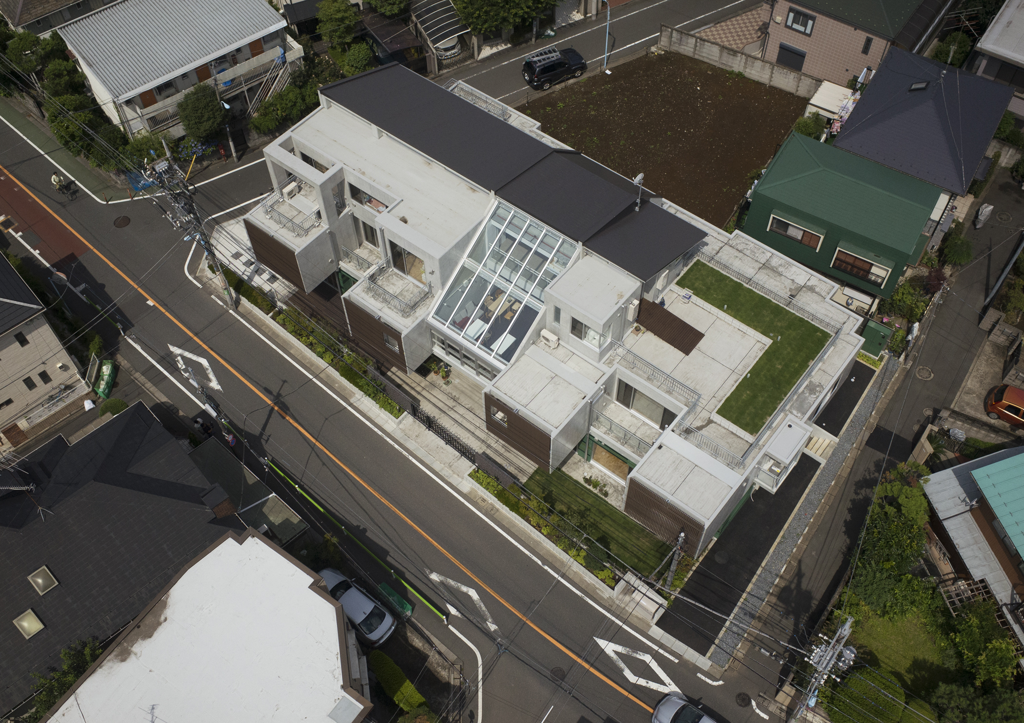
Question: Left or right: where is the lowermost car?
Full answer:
It is on the right.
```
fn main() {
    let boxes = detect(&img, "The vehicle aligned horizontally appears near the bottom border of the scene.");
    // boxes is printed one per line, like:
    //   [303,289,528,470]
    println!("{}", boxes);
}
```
[638,686,722,723]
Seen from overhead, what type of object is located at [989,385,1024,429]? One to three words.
car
